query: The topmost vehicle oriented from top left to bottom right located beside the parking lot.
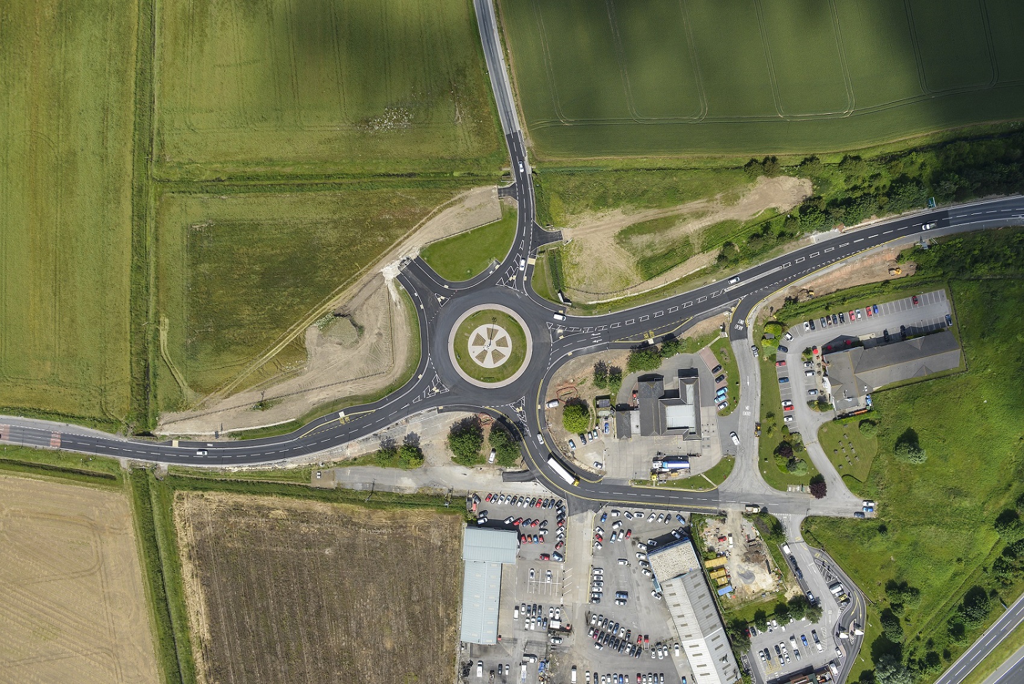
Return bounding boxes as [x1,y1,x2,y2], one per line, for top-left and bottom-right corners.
[546,456,580,487]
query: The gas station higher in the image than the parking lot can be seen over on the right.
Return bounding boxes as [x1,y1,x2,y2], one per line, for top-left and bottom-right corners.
[616,377,702,441]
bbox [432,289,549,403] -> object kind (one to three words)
roundabout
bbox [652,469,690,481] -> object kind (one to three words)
vehicle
